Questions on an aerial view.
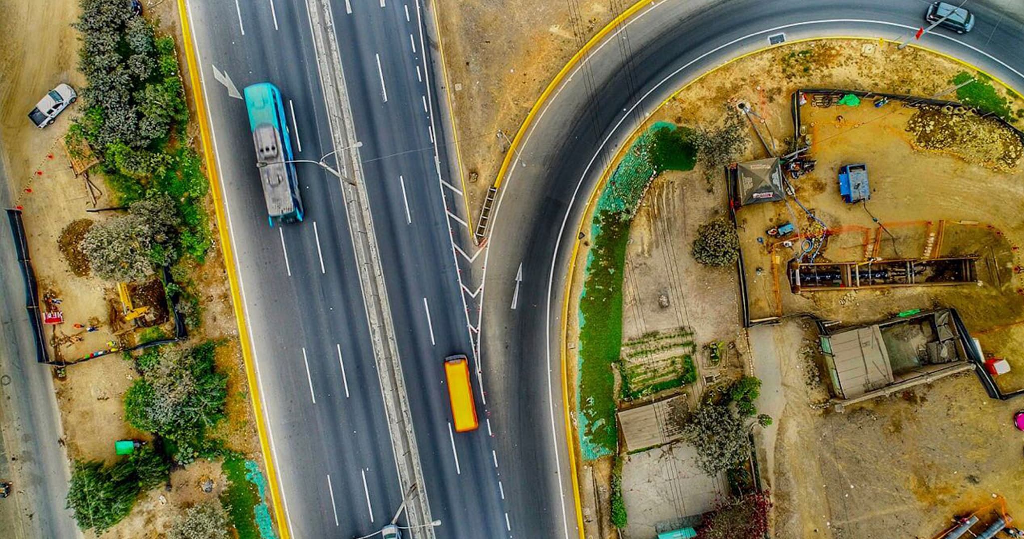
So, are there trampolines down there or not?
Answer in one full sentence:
No, there's no trampoline here.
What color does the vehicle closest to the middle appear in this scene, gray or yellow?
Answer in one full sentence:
In this view, the vehicle closest to the middle is yellow.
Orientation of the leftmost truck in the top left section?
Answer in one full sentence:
I'd say the leftmost truck in the top left section is aligned on a diagonal in the picture.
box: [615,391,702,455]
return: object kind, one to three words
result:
shed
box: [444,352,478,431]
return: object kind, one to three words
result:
vehicle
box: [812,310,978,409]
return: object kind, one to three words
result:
building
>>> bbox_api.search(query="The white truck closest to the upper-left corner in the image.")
[26,84,79,130]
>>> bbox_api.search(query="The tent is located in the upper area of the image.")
[736,158,783,207]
